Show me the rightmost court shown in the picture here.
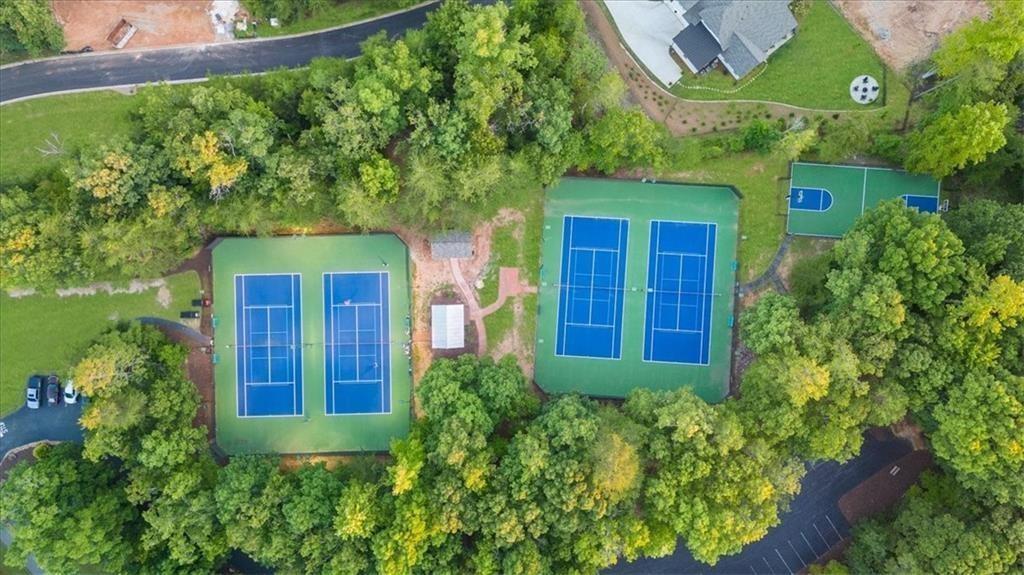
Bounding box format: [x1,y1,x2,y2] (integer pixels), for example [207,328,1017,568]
[786,162,942,248]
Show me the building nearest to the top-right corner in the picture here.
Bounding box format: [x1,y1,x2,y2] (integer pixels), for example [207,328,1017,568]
[663,0,802,82]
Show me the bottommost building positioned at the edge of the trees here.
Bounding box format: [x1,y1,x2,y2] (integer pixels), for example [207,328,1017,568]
[431,304,465,350]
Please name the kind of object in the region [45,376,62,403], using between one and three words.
car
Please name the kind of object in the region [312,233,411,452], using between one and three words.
tennis court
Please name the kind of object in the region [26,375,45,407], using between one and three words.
car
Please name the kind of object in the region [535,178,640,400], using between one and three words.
tennis court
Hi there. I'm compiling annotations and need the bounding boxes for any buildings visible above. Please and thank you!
[431,234,472,259]
[663,0,802,82]
[431,304,465,350]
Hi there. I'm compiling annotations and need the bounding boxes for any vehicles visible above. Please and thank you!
[191,299,210,306]
[64,378,79,405]
[182,310,201,318]
[45,376,62,403]
[26,375,45,407]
